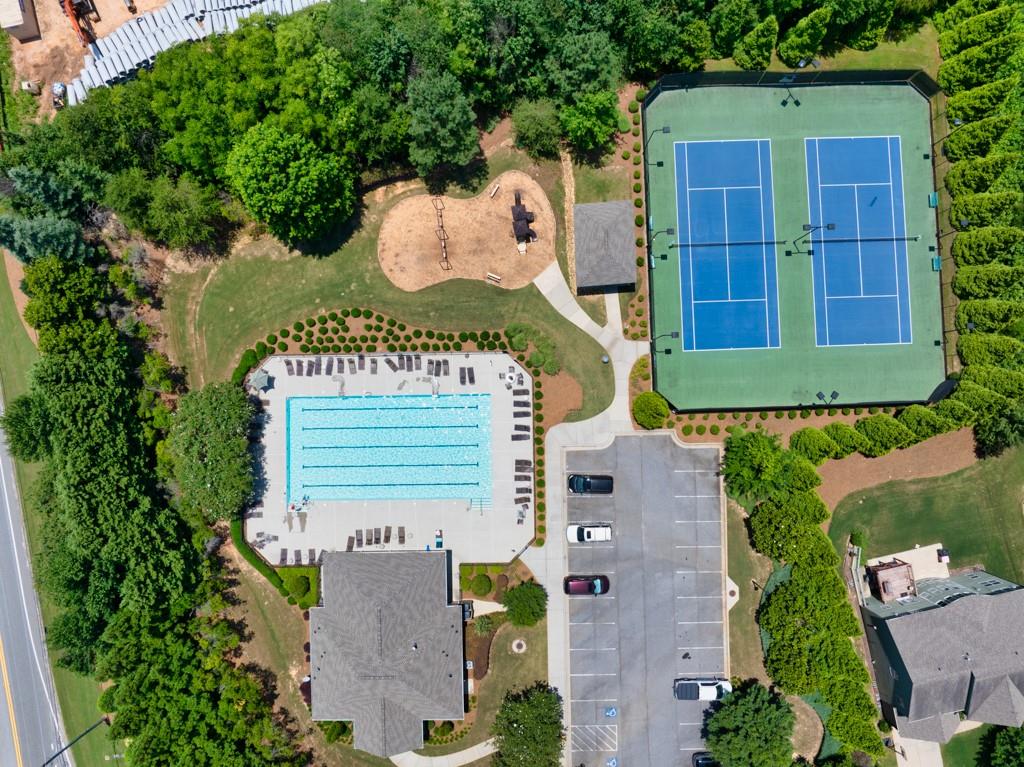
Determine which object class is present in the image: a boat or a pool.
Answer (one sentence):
The image shows a pool.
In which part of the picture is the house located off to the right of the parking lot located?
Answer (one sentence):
The house located off to the right of the parking lot is in the bottom right part of the image.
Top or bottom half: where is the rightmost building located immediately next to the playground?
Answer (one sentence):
The rightmost building located immediately next to the playground is in the top half of the image.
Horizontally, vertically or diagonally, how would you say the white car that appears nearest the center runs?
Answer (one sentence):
In this picture, the white car that appears nearest the center lies horizontally.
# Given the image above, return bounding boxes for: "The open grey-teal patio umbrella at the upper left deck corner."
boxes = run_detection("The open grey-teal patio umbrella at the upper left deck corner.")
[250,369,271,390]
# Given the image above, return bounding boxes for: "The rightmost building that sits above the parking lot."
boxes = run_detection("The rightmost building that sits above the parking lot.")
[573,201,637,288]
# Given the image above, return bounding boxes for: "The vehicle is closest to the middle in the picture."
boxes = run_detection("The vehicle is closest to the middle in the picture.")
[568,474,614,496]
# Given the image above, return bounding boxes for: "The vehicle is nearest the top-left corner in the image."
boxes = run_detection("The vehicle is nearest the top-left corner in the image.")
[61,0,98,51]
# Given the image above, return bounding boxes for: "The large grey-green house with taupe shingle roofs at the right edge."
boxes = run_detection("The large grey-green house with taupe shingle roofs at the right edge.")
[859,557,1024,746]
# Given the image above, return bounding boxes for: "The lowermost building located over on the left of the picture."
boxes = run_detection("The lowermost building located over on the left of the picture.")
[309,551,465,761]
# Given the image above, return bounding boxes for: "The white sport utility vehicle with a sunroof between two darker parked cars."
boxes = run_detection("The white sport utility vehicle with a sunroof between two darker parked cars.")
[568,526,611,546]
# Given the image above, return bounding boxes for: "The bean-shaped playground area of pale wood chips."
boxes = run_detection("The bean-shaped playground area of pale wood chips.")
[379,171,556,291]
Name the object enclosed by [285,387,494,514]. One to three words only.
swimming pool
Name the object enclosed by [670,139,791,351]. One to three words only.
tennis court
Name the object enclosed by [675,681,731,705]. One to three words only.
truck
